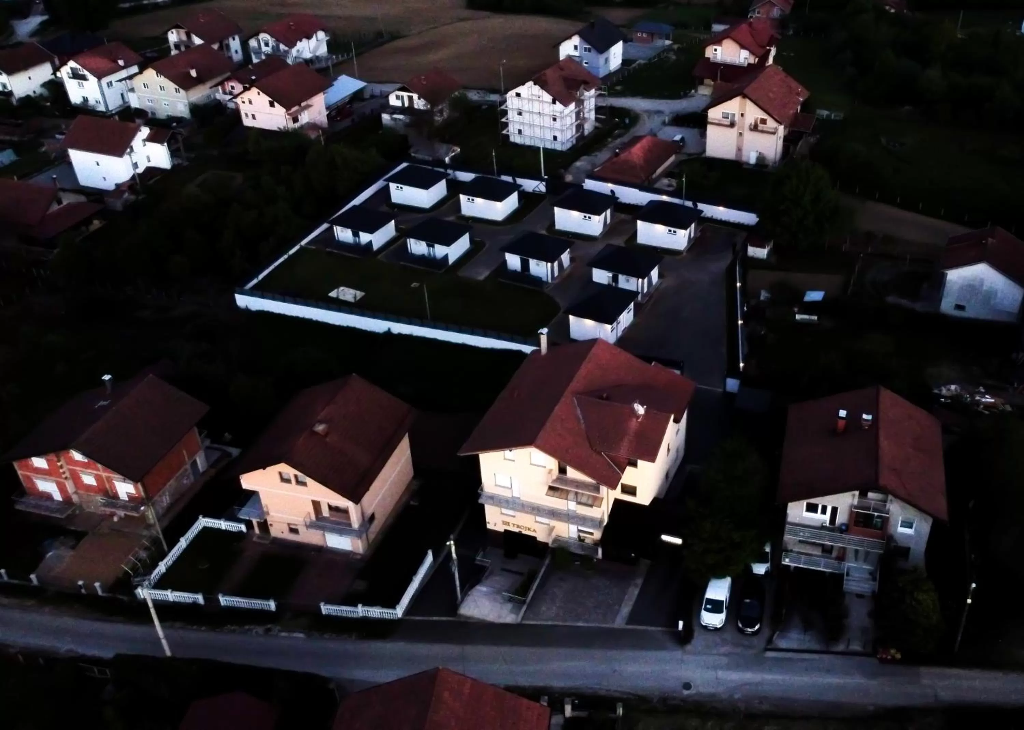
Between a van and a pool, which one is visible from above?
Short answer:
van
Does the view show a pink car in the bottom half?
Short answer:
No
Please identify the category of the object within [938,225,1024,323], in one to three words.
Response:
house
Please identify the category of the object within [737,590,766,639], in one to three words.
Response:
car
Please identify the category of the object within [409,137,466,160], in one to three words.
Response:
shed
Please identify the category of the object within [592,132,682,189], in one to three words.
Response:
building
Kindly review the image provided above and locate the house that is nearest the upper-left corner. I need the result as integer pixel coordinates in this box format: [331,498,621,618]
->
[0,41,56,100]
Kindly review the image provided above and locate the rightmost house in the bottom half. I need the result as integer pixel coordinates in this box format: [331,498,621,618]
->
[777,384,951,606]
